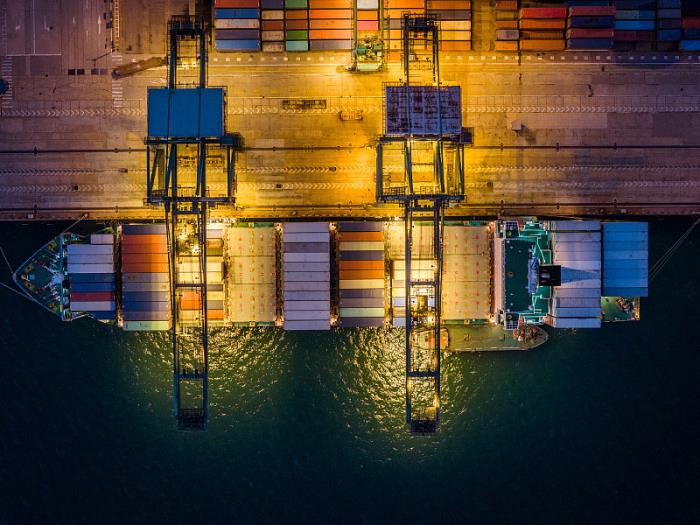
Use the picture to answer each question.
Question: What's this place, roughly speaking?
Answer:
port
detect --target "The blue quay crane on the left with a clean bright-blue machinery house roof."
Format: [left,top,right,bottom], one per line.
[141,17,260,432]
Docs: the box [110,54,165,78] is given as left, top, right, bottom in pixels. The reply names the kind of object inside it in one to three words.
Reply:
truck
